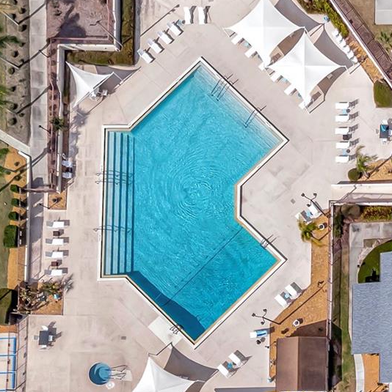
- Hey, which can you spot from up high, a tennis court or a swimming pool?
swimming pool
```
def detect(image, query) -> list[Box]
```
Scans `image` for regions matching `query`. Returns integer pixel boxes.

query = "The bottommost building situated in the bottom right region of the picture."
[276,337,330,392]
